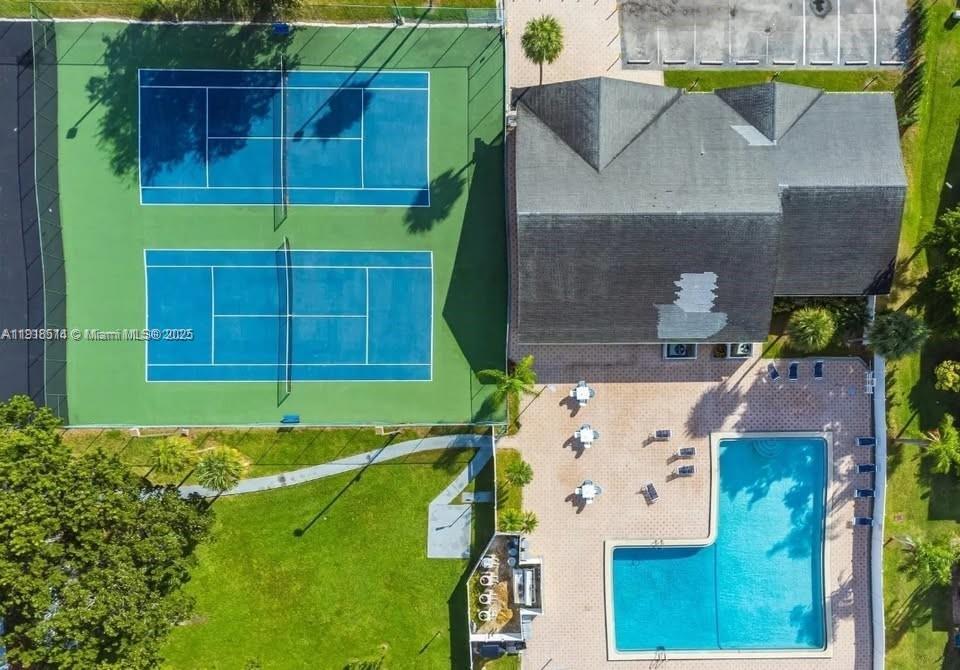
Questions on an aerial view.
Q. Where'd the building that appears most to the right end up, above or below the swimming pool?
above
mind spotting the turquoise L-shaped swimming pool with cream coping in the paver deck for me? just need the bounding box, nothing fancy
[604,433,832,660]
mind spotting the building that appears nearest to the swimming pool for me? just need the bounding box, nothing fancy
[511,78,908,345]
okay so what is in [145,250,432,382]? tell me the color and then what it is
blue tennis court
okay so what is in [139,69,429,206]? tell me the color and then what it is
blue tennis court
